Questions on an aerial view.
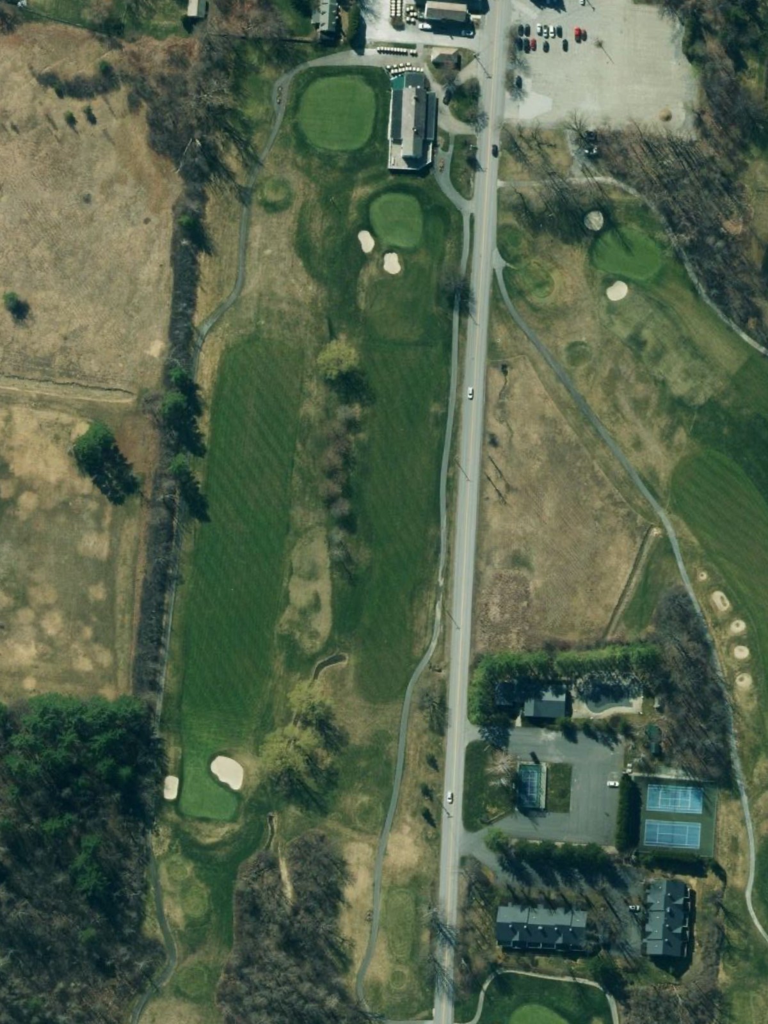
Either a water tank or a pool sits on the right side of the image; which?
pool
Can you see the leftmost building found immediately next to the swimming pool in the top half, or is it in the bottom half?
bottom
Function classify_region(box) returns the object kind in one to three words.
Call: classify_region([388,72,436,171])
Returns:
building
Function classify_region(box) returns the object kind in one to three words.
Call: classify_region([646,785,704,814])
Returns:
tennis court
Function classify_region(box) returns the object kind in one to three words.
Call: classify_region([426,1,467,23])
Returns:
house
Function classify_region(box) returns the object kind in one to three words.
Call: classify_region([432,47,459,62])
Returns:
building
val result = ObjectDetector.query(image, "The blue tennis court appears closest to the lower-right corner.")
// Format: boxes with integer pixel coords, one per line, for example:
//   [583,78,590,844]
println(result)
[644,820,701,849]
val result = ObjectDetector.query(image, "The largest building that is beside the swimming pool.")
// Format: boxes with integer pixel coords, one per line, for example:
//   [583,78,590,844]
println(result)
[524,683,566,717]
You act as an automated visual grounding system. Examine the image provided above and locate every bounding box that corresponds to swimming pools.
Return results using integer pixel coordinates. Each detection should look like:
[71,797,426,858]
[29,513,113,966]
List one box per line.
[570,671,643,719]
